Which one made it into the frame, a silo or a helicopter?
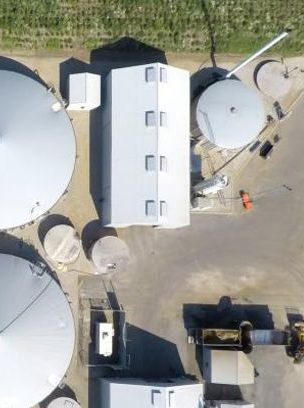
silo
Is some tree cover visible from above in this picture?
No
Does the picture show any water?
No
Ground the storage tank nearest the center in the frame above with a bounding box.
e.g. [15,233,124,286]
[87,236,129,277]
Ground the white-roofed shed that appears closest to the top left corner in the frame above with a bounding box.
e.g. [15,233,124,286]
[66,71,101,107]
